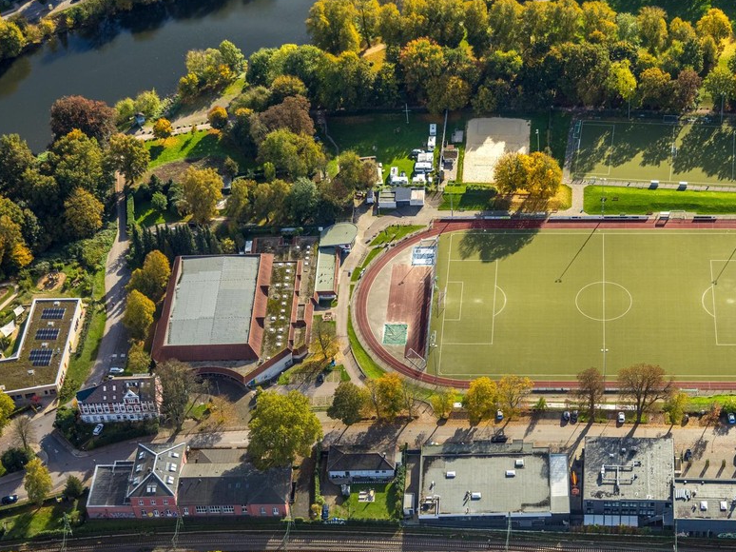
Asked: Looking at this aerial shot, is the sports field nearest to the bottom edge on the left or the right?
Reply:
right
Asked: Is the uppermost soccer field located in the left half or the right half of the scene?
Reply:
right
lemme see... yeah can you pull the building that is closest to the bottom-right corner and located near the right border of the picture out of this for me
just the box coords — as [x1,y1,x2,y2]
[674,480,736,532]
